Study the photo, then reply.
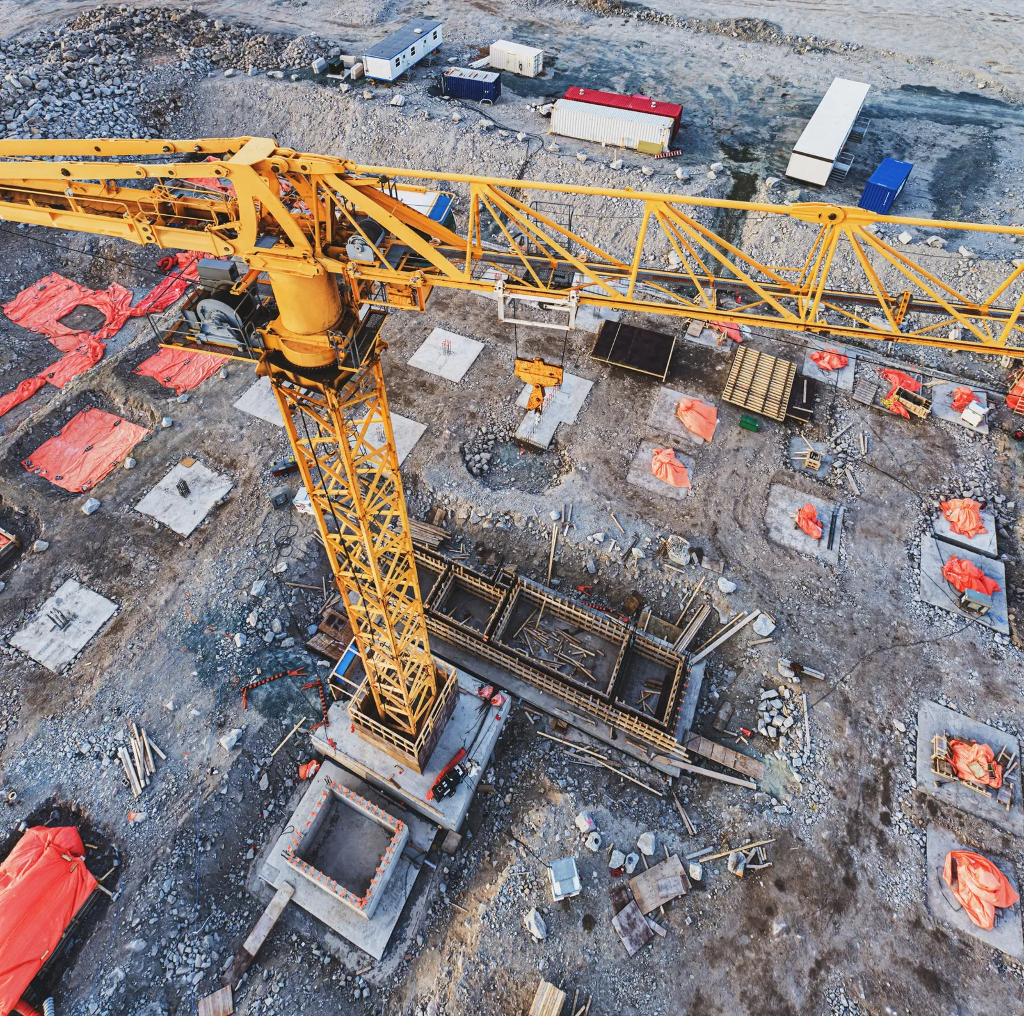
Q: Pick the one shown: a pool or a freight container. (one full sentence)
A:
There is a freight container in the scene.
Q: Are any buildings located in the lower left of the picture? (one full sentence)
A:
No, the scene shows no building in the lower left of the picture.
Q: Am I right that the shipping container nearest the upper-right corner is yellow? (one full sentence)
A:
No, from above the shipping container nearest the upper-right corner looks blue.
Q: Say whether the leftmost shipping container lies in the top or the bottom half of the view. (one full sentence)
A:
You can find the leftmost shipping container in the top half.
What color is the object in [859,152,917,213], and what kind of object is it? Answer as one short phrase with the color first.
blue shipping container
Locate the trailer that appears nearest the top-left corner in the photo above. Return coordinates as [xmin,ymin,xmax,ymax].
[360,15,449,86]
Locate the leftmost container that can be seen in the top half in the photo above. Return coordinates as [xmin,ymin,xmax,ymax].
[445,60,505,104]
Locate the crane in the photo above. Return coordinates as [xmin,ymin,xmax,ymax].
[0,130,1024,738]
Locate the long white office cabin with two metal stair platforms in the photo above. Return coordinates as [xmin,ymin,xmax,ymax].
[787,74,881,189]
